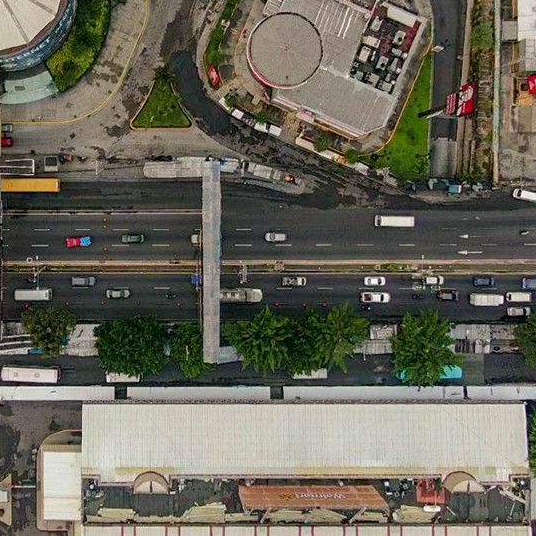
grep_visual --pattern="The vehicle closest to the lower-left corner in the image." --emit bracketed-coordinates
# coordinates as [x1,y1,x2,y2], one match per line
[0,367,59,384]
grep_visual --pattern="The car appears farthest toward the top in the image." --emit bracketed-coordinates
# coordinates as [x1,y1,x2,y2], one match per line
[208,65,222,86]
